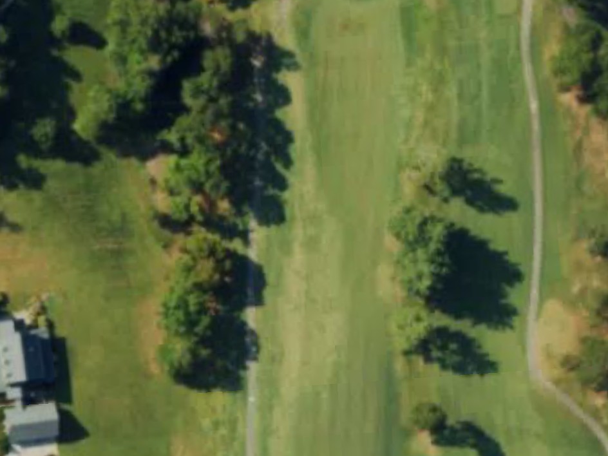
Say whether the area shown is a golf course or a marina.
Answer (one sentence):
This looks like a golf course.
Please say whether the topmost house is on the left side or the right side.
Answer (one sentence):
The topmost house appears in the left half of the scene.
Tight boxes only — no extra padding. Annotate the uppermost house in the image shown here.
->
[0,318,56,409]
